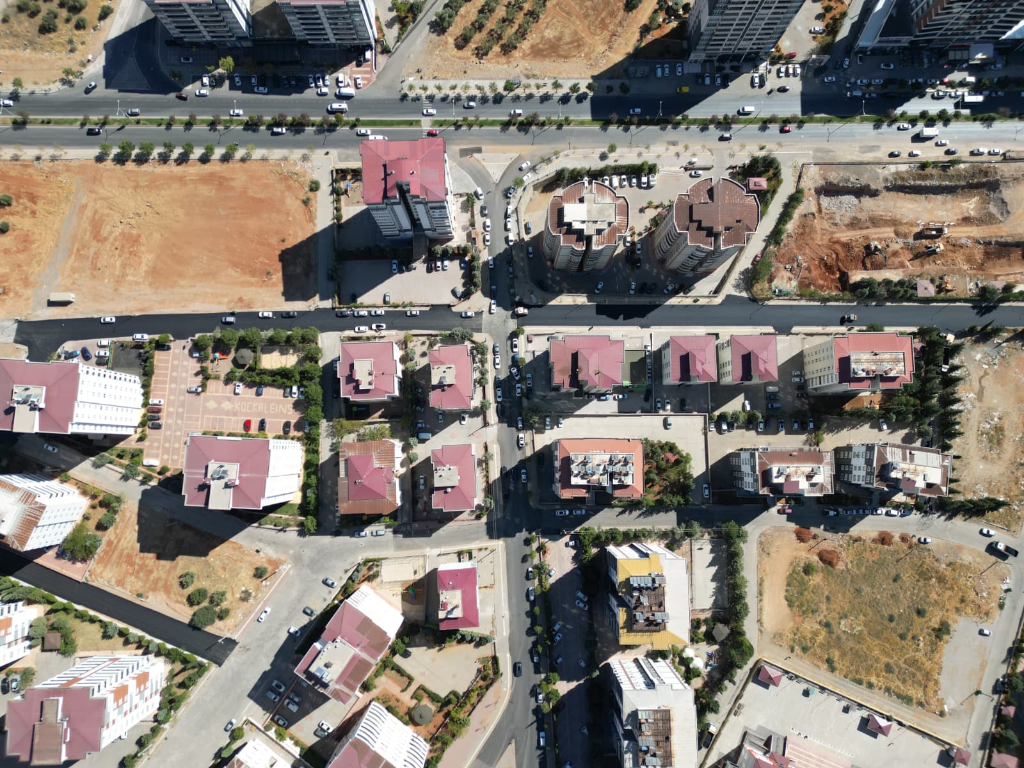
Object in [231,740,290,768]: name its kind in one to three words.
building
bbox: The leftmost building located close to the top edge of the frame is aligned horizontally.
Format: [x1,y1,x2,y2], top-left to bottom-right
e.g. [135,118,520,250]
[139,0,249,50]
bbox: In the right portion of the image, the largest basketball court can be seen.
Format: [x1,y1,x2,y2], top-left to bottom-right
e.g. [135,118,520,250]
[693,540,727,608]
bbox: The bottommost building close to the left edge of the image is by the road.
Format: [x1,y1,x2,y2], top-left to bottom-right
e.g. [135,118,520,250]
[5,653,163,767]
